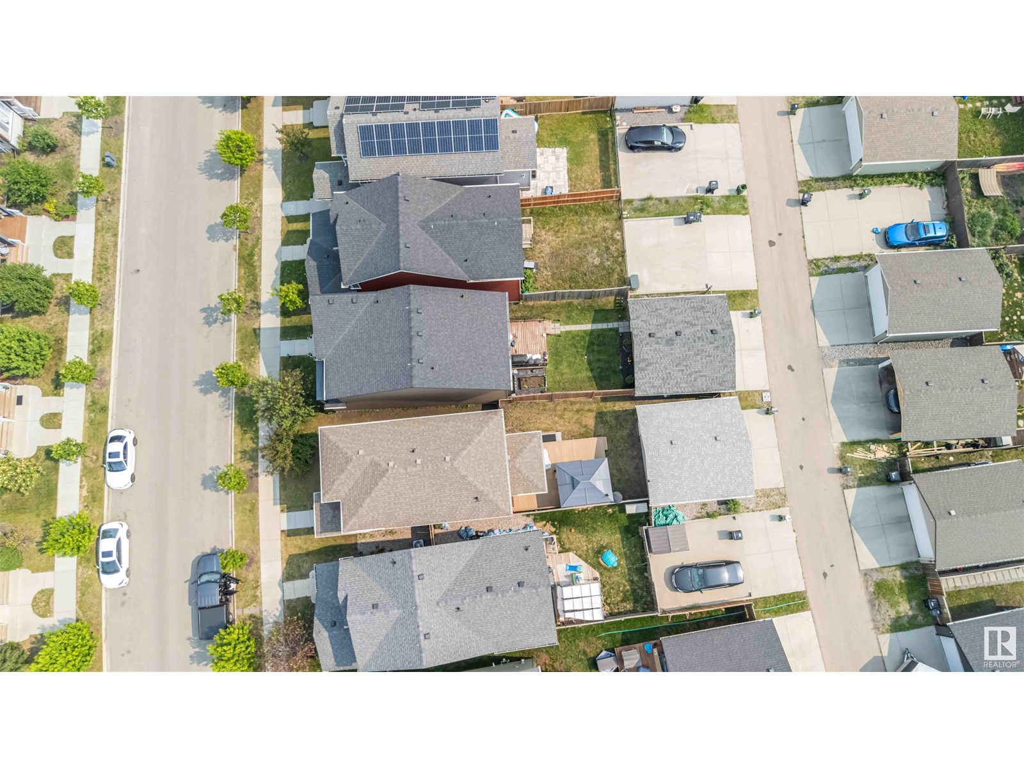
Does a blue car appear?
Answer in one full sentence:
Yes, there's a blue car here.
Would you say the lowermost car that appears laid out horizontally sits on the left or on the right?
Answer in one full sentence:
It is on the right.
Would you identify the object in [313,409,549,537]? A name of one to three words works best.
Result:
house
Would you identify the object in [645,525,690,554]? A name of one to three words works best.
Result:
shed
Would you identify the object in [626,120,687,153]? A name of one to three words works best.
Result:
car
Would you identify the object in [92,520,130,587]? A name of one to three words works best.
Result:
car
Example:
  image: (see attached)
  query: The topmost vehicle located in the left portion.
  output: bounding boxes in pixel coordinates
[100,427,138,490]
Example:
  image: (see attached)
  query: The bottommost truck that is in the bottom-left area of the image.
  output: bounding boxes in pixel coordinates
[191,555,242,644]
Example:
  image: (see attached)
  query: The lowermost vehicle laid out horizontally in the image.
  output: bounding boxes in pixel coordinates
[673,561,750,600]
